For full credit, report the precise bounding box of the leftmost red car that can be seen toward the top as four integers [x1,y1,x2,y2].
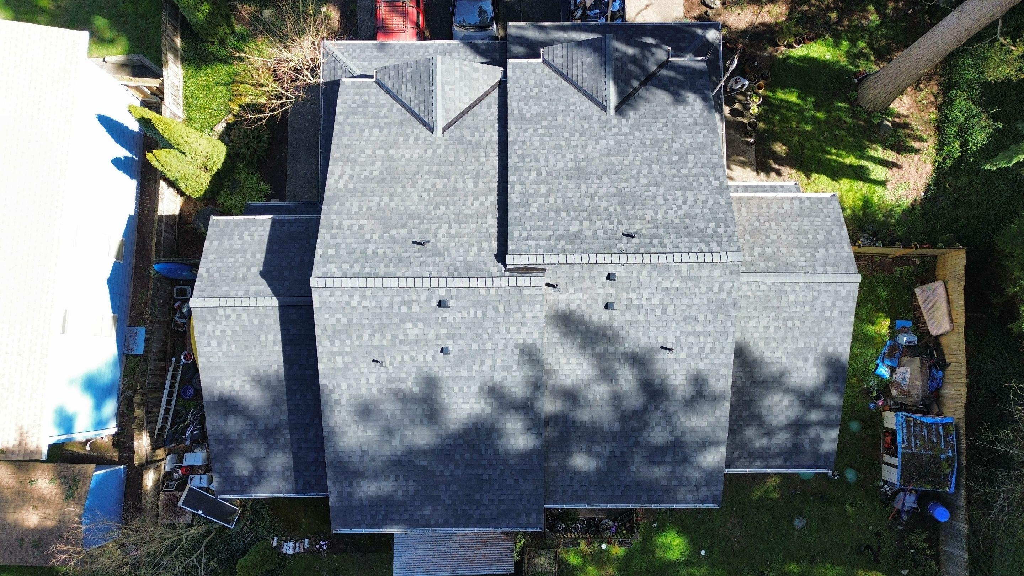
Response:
[377,0,424,39]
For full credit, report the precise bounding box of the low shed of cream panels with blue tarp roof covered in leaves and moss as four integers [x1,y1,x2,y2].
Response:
[875,412,956,492]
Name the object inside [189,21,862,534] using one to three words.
house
